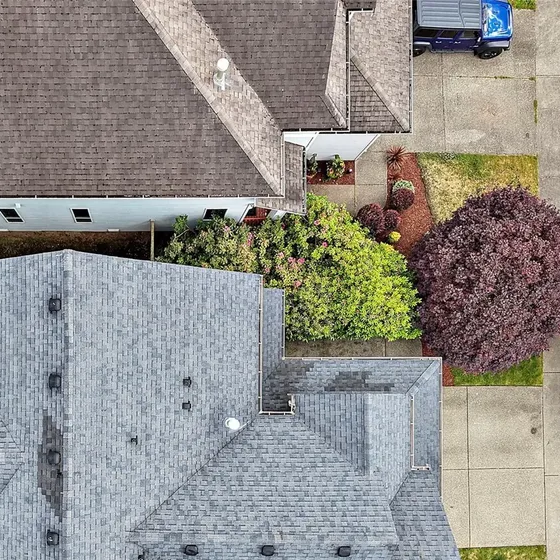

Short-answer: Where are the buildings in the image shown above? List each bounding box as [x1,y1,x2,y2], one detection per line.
[0,250,461,560]
[0,0,414,232]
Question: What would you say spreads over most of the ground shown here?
buildings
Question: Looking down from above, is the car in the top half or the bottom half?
top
